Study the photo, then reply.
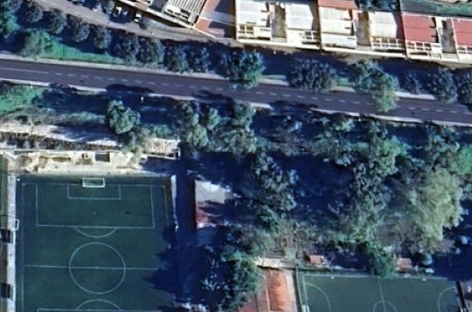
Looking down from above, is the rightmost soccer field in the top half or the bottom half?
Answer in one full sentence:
The bottom half of the photo is where the rightmost soccer field is.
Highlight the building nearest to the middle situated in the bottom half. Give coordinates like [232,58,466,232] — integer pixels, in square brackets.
[193,180,228,212]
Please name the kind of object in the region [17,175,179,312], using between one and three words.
soccer field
